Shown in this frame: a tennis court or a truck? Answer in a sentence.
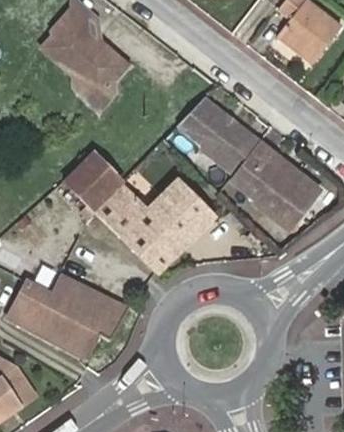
There is a truck in the scene.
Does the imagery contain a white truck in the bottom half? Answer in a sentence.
Yes, there is a white truck in the bottom half.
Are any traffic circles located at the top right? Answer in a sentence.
No, no traffic circle is visible at the top right.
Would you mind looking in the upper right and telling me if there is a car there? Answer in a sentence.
Yes, I can see a car in the upper right.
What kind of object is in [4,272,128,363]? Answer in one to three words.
house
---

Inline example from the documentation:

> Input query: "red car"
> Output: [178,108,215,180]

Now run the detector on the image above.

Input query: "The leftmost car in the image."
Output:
[0,285,14,306]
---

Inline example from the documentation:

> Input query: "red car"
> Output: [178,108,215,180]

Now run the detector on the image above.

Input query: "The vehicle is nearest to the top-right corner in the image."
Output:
[262,22,278,42]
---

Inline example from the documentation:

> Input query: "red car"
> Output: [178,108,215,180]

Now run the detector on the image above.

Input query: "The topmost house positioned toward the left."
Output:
[40,0,134,117]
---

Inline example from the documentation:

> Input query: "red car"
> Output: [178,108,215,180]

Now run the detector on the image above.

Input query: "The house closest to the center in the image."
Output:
[95,177,219,274]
